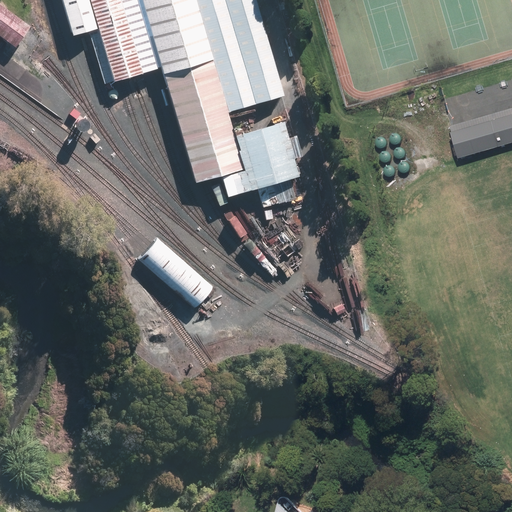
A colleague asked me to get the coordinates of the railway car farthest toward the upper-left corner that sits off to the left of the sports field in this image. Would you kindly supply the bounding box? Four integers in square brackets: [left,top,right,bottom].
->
[213,184,227,206]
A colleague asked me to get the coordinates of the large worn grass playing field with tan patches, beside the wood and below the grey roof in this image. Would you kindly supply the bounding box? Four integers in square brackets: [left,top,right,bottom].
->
[400,148,512,456]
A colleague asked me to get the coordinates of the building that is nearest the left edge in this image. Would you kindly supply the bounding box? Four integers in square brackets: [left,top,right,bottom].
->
[0,4,31,48]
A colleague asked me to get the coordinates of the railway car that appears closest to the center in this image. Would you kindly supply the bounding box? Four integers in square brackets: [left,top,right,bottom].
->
[244,239,280,276]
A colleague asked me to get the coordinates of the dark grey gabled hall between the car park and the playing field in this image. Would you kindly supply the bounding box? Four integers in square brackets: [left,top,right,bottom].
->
[450,108,512,159]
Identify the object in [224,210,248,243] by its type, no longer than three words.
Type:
rail car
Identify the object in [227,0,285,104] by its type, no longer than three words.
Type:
building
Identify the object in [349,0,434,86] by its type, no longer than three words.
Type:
tennis court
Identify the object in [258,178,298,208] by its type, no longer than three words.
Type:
shed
